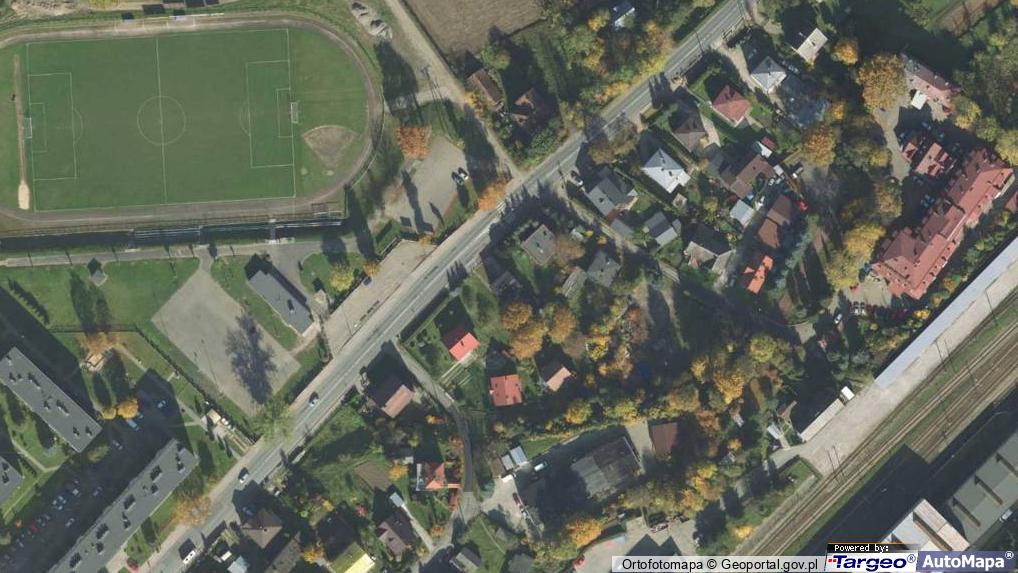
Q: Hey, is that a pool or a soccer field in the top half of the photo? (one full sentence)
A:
What appears in the top half of the photo is a soccer field.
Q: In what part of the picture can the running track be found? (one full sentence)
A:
The running track is located in the top left region of the scene.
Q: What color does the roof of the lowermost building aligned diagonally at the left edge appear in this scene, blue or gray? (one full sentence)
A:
In this view, the roof of the lowermost building aligned diagonally at the left edge is gray.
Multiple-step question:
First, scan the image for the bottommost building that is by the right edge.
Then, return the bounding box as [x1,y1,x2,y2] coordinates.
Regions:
[850,499,969,573]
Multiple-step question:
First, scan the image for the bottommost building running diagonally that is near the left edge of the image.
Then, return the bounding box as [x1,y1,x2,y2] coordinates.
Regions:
[36,439,199,573]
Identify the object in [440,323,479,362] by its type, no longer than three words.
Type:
house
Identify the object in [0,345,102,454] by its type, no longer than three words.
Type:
building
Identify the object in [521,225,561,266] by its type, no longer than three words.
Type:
house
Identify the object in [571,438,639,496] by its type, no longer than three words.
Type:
building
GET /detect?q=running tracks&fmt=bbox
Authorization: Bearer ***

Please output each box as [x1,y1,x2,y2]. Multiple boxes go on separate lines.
[0,13,385,225]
